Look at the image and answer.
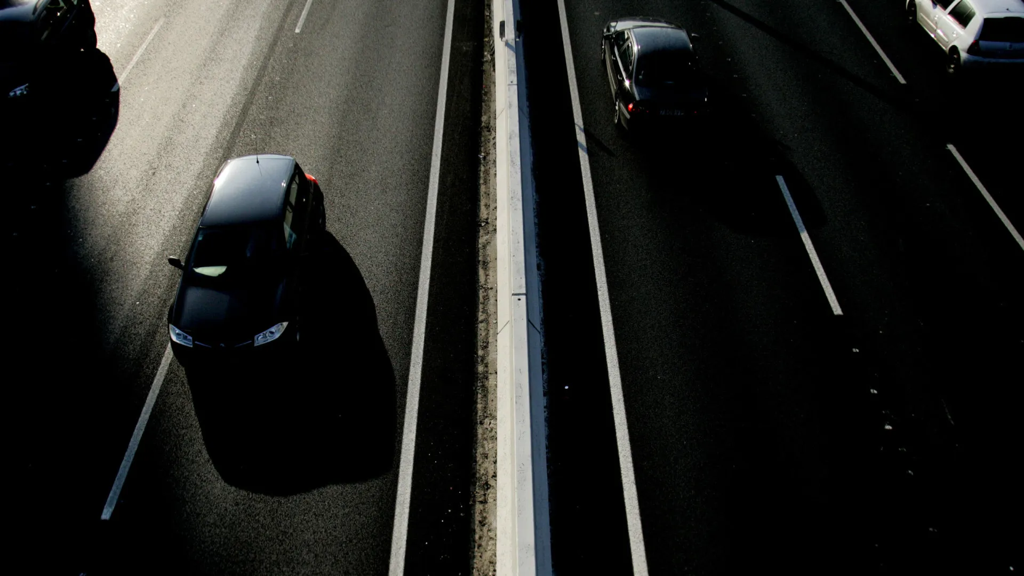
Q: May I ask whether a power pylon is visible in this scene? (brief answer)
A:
No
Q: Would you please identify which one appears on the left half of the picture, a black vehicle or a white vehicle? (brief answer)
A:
black vehicle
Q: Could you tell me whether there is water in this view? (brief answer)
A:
No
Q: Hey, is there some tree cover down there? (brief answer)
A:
No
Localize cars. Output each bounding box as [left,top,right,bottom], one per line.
[167,132,327,363]
[603,23,711,138]
[0,0,96,114]
[911,0,1024,74]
